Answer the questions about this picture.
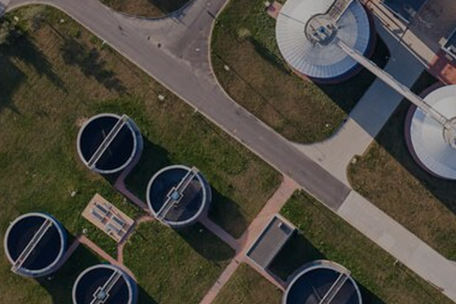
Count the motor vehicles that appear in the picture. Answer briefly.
none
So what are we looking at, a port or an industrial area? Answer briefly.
industrial area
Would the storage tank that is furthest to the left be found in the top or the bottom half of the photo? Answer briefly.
bottom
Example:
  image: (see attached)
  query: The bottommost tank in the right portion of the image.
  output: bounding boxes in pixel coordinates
[278,254,368,304]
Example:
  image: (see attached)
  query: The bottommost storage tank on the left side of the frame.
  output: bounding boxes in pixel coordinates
[72,260,137,304]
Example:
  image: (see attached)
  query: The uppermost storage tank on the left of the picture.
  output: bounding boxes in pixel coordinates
[77,111,141,175]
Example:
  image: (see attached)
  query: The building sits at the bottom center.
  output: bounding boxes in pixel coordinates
[247,212,299,269]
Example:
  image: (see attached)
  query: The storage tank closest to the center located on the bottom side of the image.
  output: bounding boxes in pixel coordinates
[145,162,211,226]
